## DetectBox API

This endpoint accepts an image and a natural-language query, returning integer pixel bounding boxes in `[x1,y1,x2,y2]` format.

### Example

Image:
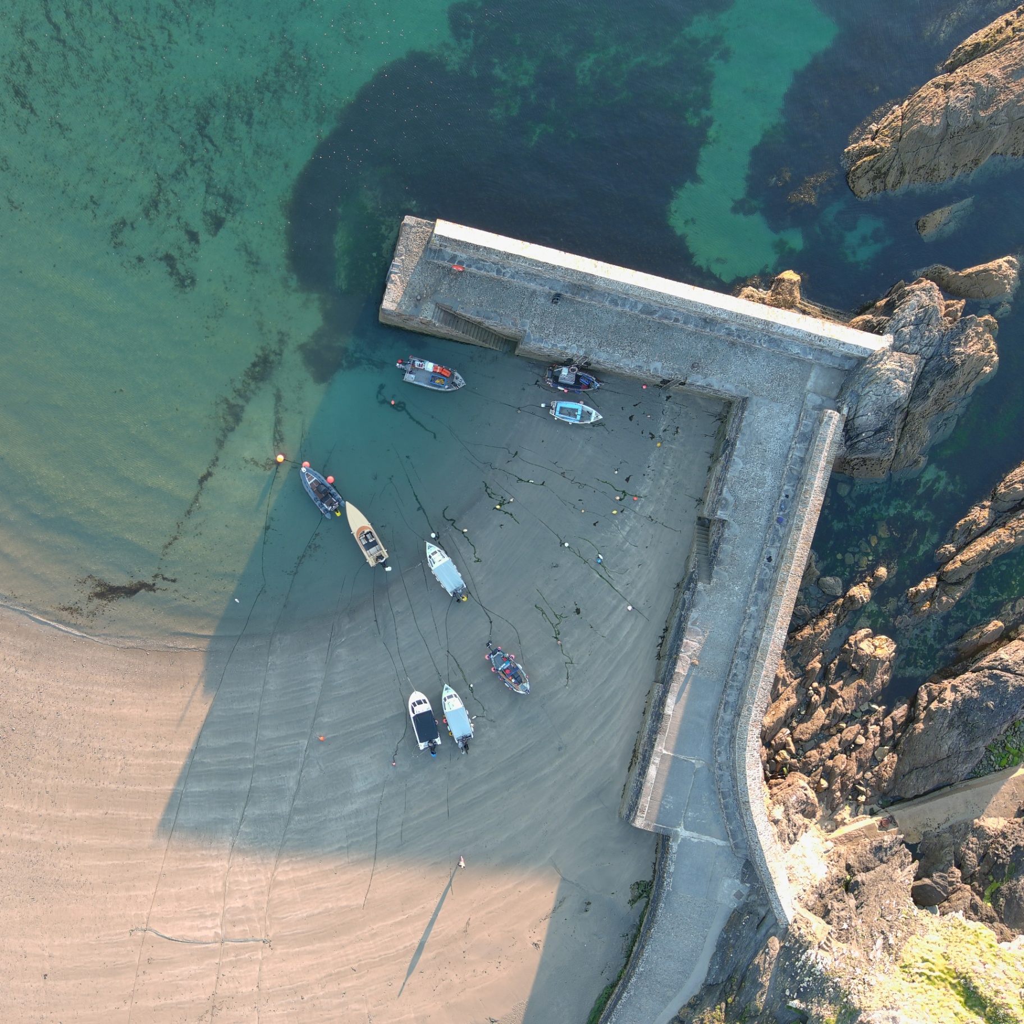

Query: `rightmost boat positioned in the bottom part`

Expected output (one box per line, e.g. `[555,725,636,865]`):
[481,641,531,694]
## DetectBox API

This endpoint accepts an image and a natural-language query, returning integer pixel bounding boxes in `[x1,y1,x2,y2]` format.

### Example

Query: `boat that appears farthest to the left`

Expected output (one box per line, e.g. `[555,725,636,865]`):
[301,464,348,523]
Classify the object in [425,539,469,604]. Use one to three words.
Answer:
boat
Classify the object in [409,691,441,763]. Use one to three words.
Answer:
boat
